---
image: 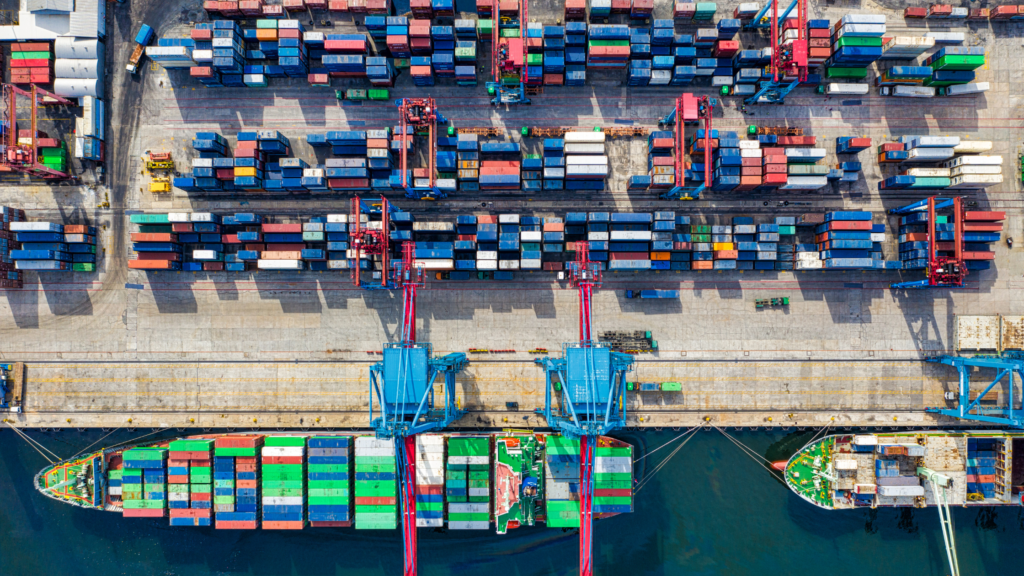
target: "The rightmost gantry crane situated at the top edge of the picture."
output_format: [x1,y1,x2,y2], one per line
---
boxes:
[744,0,807,101]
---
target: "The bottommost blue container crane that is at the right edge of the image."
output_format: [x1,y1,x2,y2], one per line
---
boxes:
[928,354,1024,438]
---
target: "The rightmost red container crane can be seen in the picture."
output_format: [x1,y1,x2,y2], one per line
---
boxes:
[887,198,964,289]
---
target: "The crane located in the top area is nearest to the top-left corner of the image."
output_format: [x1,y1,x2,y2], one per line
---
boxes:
[5,84,84,178]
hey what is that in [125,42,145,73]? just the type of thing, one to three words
vehicle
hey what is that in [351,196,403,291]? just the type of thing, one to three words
container crane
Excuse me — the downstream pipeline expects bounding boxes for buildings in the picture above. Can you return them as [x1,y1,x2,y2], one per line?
[0,0,107,102]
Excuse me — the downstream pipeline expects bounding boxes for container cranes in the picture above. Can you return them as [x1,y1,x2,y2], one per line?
[744,0,807,101]
[534,243,632,576]
[365,243,470,576]
[398,99,447,200]
[887,198,964,289]
[928,354,1024,438]
[656,93,712,200]
[5,84,84,178]
[351,196,403,291]
[488,0,530,102]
